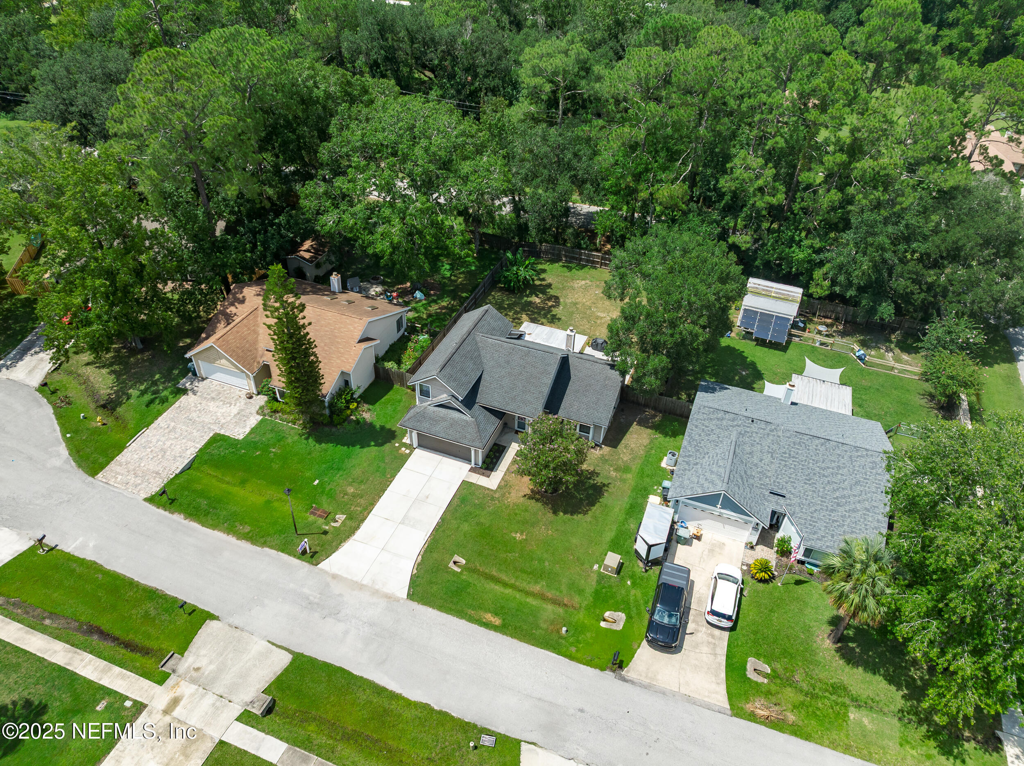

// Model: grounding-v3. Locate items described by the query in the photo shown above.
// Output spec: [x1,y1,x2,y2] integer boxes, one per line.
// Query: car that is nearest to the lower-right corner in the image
[704,561,746,630]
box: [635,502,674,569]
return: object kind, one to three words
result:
trailer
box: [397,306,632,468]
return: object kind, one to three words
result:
house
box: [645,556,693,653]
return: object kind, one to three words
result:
truck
